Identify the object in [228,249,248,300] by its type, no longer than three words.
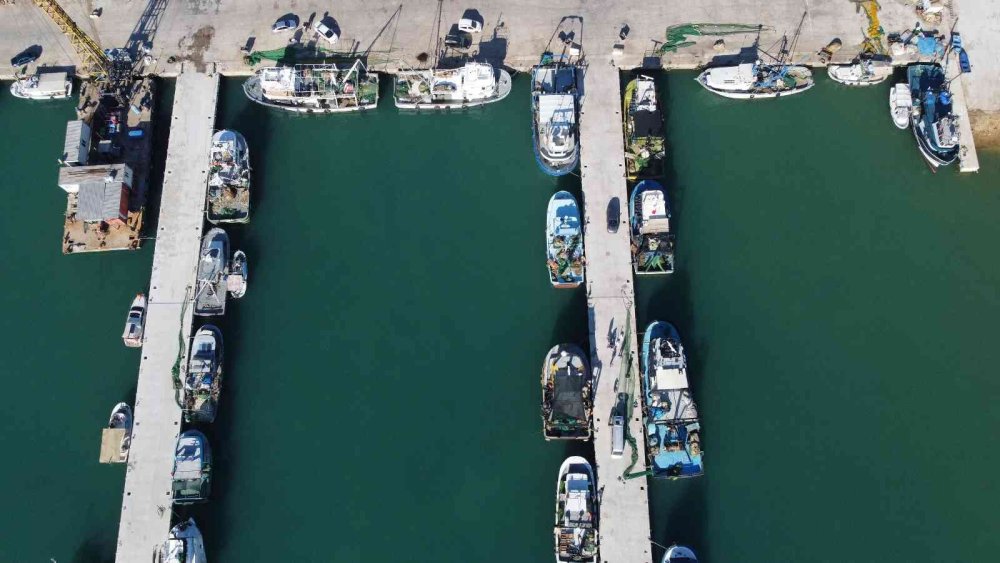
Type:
boat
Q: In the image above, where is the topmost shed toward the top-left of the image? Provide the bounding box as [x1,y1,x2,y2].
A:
[61,123,92,167]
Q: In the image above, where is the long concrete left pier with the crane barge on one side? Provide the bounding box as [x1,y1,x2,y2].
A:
[115,74,221,563]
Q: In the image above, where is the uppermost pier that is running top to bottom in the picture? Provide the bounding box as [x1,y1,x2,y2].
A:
[944,64,979,175]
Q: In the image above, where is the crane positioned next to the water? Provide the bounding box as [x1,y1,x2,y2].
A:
[21,0,140,112]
